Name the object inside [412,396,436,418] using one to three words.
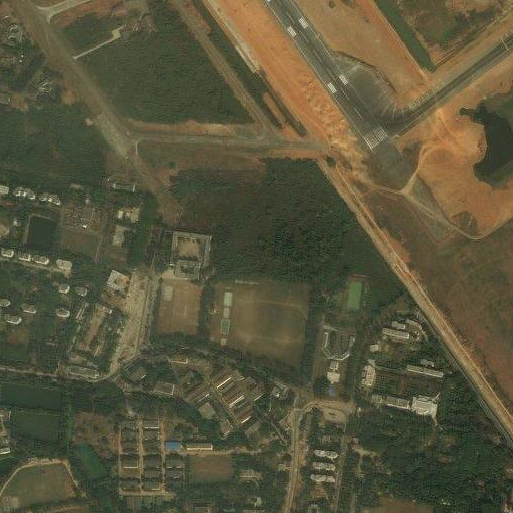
building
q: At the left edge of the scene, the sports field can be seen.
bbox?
[0,458,79,511]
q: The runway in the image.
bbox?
[261,0,391,150]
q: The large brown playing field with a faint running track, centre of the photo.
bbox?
[211,280,308,365]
